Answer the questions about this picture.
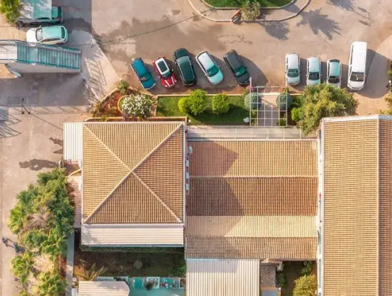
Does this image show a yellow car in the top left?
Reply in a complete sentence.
No, I can find no yellow car in the top left.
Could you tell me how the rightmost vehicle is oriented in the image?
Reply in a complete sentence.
The rightmost vehicle runs from top to bottom in the image.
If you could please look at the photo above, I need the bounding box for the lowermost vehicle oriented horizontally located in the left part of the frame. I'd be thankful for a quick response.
[26,24,69,44]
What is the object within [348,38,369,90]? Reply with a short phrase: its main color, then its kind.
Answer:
white vehicle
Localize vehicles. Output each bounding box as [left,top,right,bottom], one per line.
[285,53,302,86]
[348,38,369,90]
[306,58,323,80]
[131,58,155,90]
[195,50,223,87]
[326,60,341,87]
[155,56,175,89]
[26,24,69,44]
[20,7,63,27]
[223,49,249,86]
[174,49,195,87]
